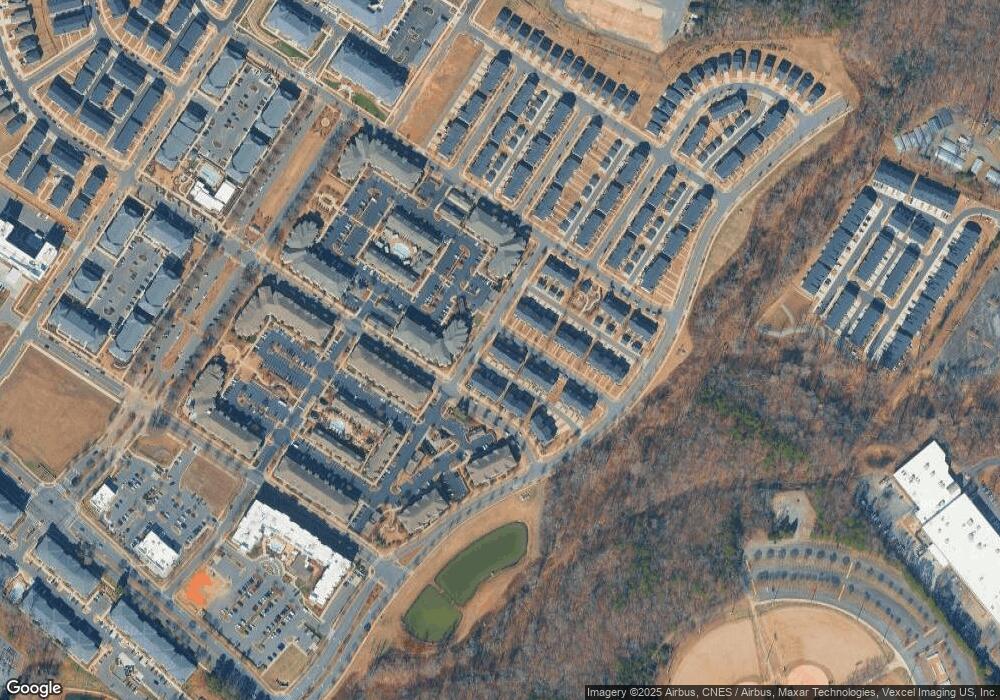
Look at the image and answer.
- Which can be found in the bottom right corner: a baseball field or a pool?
baseball field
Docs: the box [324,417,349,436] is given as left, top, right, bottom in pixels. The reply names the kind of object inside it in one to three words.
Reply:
swimming pool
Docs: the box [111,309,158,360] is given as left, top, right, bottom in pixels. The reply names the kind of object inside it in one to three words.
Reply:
building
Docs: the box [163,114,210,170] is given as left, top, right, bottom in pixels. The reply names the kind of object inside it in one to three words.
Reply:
building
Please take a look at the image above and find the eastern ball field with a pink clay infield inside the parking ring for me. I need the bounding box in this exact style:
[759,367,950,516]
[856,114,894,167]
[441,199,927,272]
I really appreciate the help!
[757,603,910,700]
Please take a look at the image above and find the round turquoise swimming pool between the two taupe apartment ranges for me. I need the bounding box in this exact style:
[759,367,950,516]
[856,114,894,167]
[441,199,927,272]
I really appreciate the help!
[385,235,413,259]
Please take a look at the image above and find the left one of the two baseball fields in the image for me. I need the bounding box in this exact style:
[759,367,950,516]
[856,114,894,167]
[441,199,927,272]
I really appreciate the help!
[664,620,780,700]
